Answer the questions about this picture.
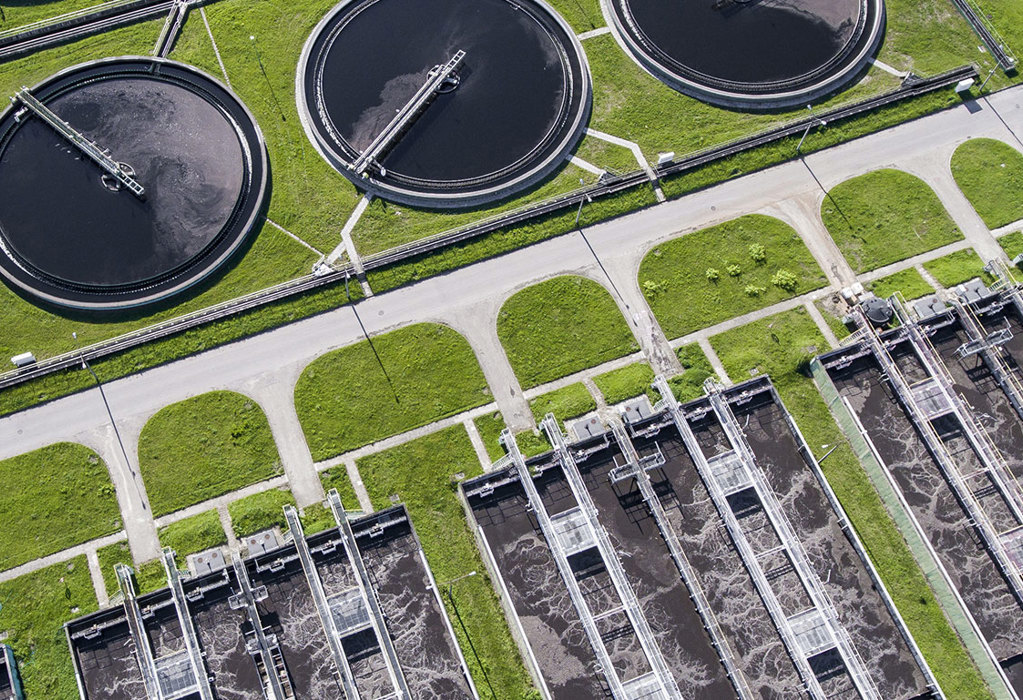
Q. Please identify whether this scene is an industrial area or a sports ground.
industrial area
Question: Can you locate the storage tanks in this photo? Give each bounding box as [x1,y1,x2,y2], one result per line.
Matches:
[0,56,270,310]
[601,0,884,108]
[297,0,593,208]
[861,301,893,331]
